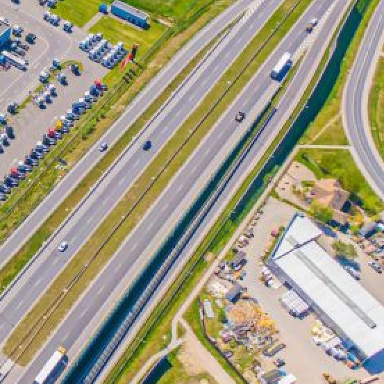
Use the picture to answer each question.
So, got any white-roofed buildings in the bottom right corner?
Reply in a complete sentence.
Yes, in the bottom right corner there is a white-roofed building.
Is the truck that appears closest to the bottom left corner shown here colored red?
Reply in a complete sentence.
No, from above the truck that appears closest to the bottom left corner looks white.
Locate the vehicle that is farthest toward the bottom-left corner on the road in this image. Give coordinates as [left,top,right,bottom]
[33,350,65,384]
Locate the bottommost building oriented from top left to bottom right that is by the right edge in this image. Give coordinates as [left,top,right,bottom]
[267,239,384,365]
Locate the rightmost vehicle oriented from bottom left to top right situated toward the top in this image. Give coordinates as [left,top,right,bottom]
[307,15,320,30]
